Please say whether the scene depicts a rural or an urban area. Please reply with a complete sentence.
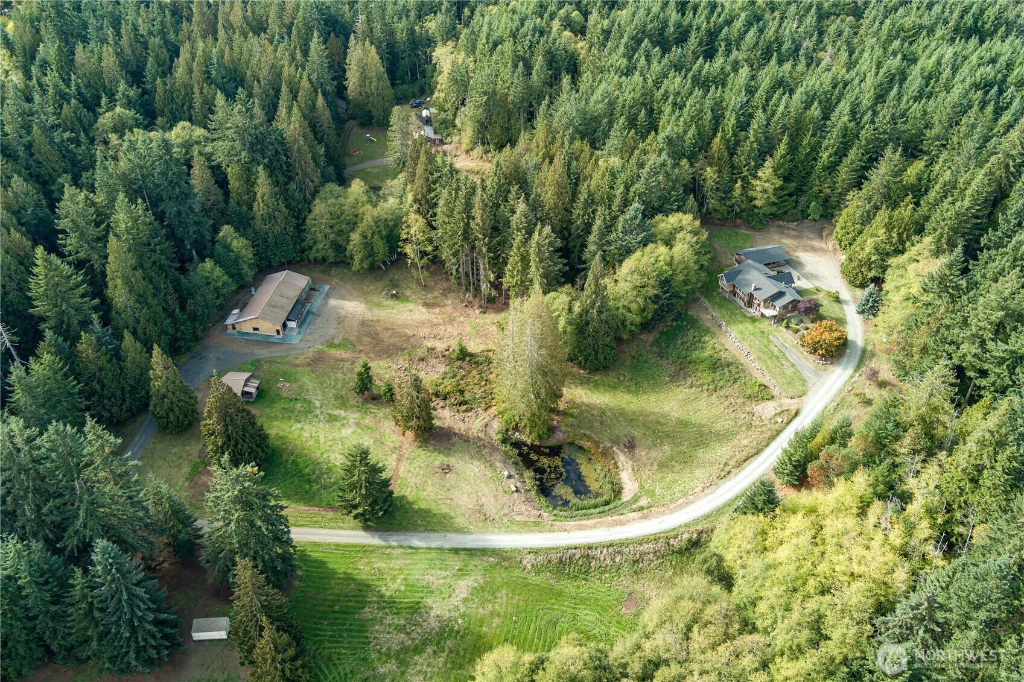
The land in this view is best described as rural.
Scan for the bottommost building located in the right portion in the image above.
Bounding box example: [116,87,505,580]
[714,259,805,324]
